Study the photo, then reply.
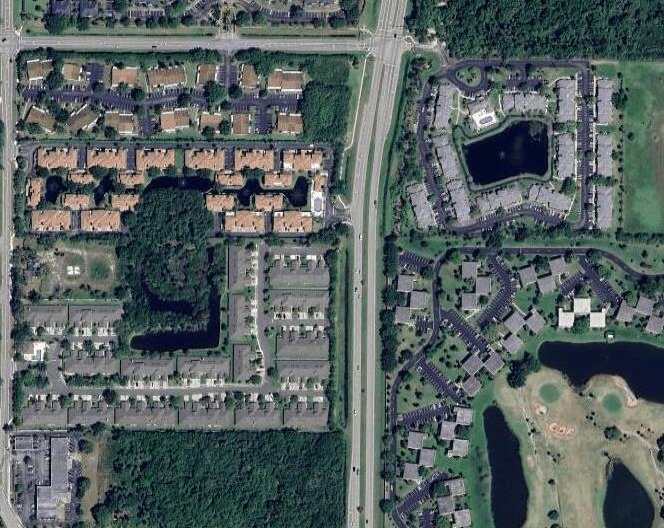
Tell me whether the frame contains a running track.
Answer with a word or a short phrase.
No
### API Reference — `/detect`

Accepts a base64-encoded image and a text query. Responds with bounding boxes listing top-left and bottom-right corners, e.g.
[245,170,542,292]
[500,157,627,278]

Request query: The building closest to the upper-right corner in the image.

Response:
[597,80,615,124]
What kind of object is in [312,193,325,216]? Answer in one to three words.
swimming pool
